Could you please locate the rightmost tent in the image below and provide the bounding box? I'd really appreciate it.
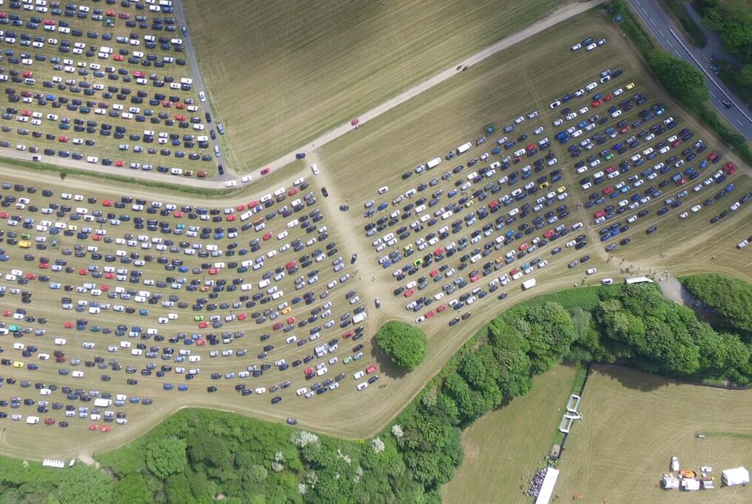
[718,463,750,487]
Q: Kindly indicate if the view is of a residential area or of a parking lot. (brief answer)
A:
parking lot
